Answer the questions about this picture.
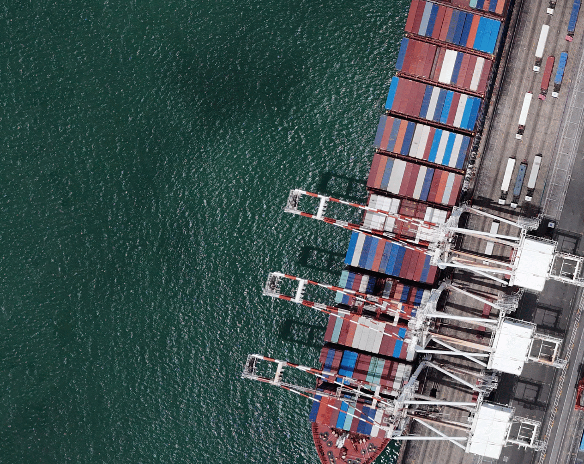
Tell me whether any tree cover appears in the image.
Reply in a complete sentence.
No, the picture contains no tree cover.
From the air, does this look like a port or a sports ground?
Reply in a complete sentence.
What you see here is a port.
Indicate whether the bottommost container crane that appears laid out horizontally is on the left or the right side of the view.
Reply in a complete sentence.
The bottommost container crane that appears laid out horizontally sits on the right side.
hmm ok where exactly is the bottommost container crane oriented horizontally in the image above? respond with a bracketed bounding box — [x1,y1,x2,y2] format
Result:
[238,351,549,464]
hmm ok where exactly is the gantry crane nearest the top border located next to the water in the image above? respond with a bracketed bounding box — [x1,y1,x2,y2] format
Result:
[279,186,584,300]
